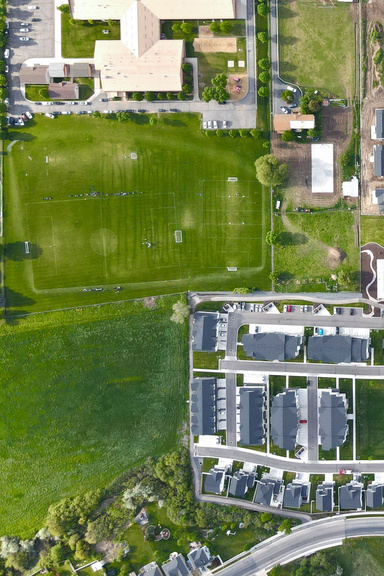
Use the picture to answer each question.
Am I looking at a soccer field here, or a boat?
soccer field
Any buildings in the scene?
Yes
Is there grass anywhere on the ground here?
Yes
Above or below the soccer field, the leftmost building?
above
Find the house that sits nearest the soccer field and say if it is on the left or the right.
right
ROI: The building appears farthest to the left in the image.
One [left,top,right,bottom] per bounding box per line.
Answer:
[18,65,52,85]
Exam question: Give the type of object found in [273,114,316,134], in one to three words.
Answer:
house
